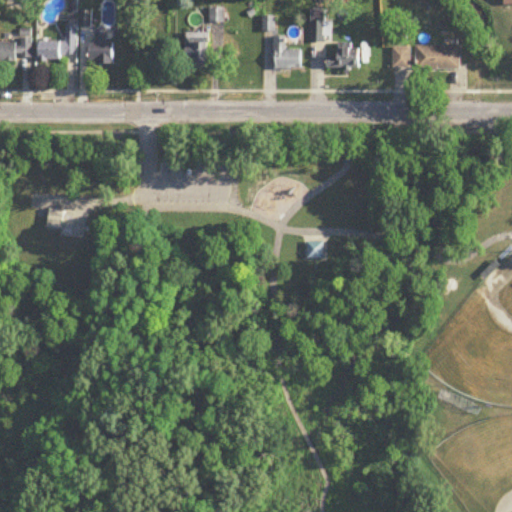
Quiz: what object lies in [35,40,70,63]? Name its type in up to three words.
house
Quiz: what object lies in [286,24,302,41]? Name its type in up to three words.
swimming pool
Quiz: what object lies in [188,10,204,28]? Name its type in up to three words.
swimming pool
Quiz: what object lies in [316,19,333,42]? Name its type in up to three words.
building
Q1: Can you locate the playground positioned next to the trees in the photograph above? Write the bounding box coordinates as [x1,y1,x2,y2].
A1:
[251,178,309,221]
